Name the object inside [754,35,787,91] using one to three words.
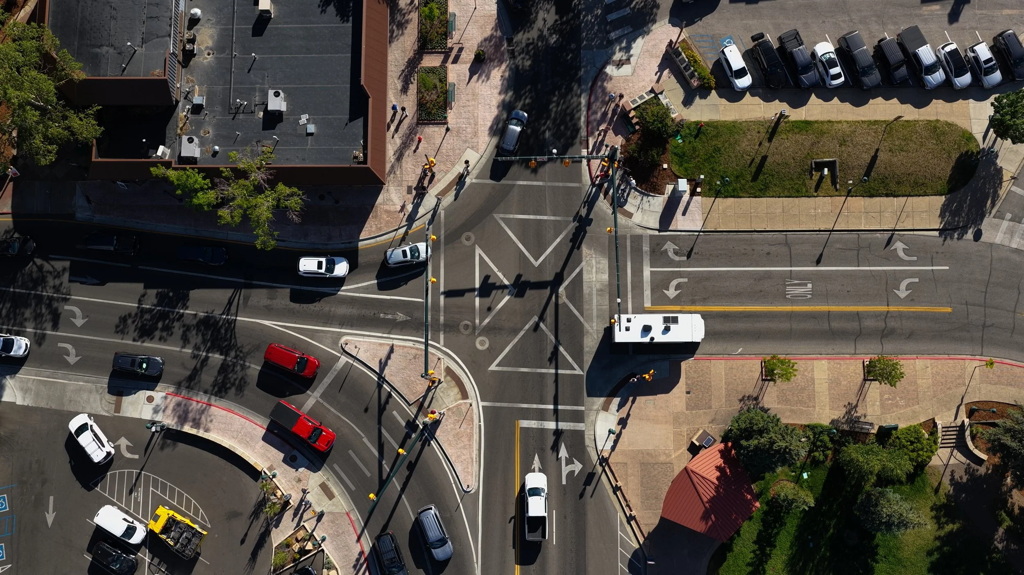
car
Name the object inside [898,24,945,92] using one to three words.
truck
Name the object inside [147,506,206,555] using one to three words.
car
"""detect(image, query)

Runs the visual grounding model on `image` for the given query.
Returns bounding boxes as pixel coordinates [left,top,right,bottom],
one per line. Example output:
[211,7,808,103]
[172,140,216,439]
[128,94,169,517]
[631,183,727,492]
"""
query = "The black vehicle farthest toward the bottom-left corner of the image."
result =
[92,539,140,575]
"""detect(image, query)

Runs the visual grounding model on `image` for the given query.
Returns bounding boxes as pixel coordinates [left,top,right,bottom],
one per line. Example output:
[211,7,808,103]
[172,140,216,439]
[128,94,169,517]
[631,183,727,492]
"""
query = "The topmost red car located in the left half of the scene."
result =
[262,344,323,378]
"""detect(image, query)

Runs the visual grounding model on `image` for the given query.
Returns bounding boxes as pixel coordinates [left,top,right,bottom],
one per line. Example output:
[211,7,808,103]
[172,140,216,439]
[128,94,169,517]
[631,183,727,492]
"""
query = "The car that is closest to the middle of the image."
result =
[383,240,432,269]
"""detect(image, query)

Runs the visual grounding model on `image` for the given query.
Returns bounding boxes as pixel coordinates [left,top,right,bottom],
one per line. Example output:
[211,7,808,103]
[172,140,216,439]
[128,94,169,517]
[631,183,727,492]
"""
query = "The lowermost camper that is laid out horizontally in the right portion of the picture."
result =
[610,310,708,346]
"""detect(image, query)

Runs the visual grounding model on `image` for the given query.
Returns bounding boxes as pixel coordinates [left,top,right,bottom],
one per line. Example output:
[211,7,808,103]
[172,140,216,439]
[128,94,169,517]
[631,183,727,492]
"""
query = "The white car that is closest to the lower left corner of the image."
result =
[95,502,149,544]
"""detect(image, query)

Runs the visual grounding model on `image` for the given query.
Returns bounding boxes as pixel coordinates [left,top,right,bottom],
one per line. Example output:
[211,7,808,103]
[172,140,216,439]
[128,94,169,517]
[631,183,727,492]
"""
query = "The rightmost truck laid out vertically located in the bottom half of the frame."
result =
[523,473,550,542]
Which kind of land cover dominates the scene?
paved ground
